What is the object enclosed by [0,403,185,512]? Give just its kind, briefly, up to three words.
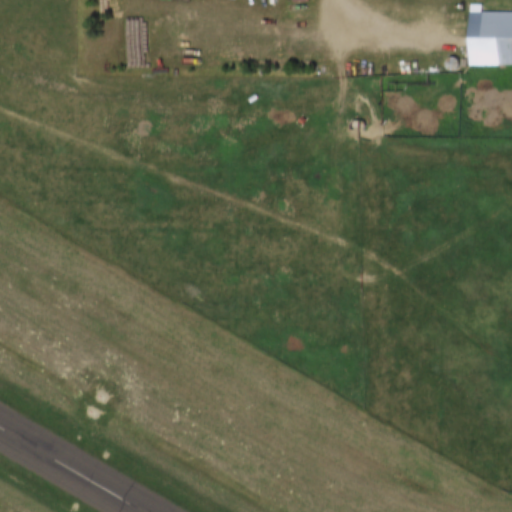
runway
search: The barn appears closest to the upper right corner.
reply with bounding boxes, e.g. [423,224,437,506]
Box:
[466,3,512,68]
